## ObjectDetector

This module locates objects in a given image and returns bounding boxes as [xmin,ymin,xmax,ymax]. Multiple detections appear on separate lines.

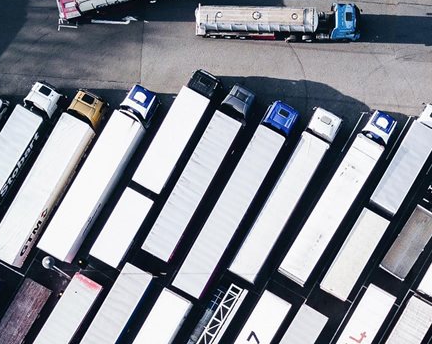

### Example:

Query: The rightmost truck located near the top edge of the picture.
[195,6,360,50]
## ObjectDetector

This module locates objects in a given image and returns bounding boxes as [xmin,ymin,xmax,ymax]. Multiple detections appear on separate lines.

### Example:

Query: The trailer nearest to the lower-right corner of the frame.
[386,296,432,344]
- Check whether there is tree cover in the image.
No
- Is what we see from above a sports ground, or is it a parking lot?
parking lot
